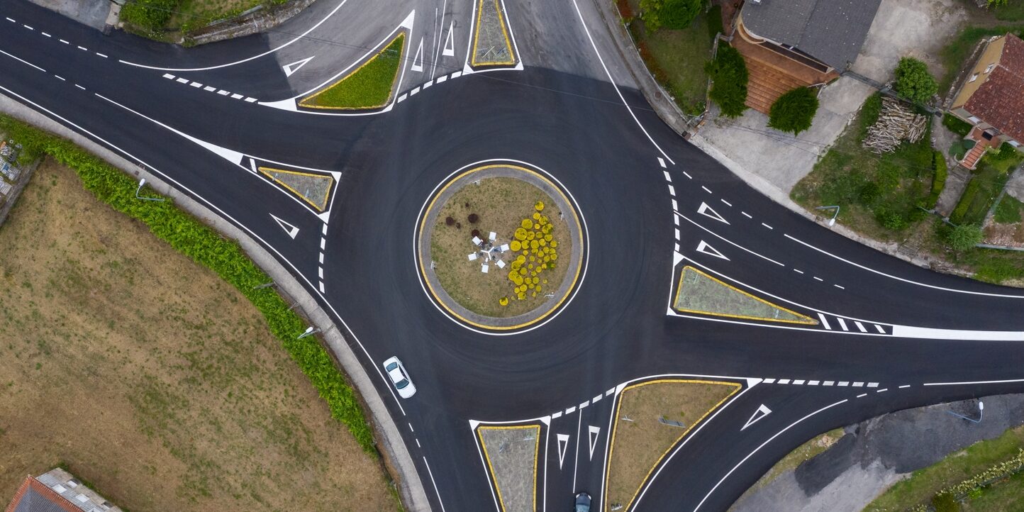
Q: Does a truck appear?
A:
No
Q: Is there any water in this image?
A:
No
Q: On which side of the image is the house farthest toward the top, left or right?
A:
right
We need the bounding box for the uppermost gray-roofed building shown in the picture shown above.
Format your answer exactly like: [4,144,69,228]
[735,0,878,74]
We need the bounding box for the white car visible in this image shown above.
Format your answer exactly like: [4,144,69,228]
[384,356,416,398]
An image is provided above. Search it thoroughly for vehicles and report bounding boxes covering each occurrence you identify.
[384,356,416,398]
[574,493,593,512]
